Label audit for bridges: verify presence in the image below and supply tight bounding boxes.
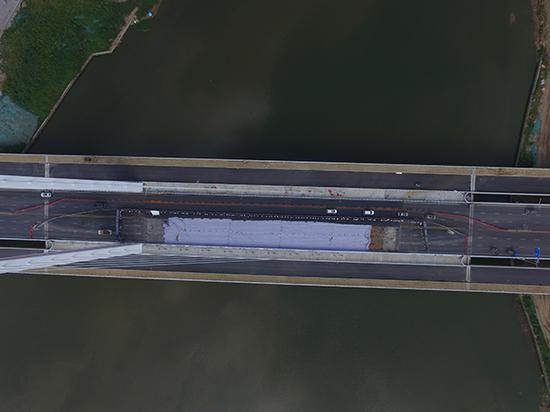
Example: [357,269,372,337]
[0,153,550,294]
